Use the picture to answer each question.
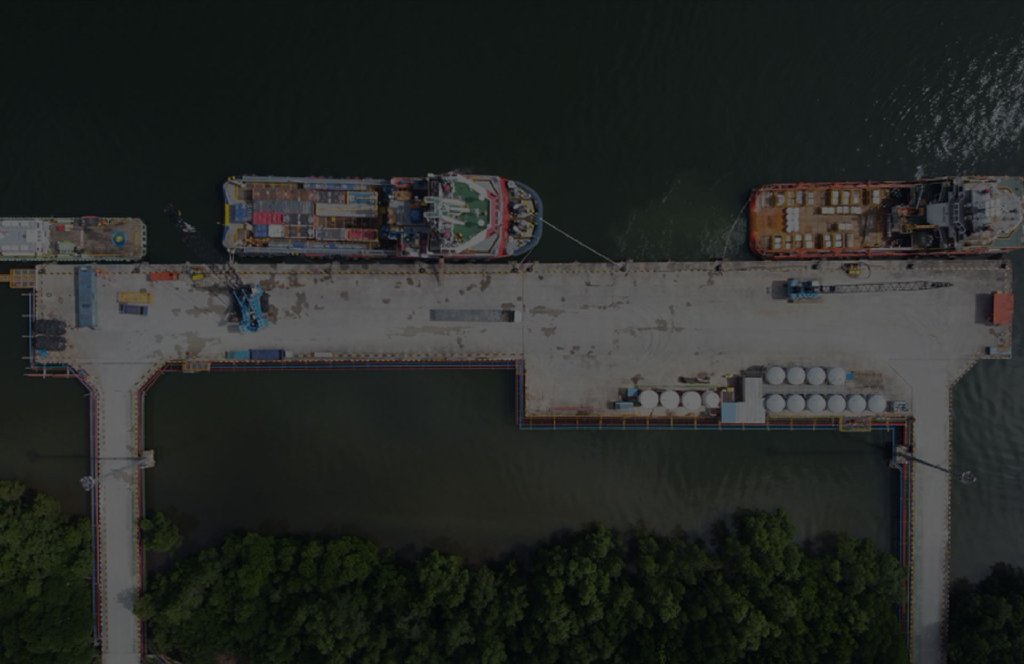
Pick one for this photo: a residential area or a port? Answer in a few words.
port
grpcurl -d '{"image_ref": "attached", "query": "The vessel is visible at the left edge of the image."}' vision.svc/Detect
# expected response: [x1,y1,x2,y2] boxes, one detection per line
[0,216,151,263]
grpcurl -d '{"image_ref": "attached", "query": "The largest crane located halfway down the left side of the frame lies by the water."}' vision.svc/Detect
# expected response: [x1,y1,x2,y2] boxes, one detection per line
[164,207,270,339]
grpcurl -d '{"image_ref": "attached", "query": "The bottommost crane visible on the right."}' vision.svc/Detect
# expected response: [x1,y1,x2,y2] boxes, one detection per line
[785,279,957,301]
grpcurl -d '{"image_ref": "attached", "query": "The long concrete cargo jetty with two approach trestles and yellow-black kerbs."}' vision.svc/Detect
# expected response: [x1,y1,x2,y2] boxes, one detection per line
[35,254,1011,664]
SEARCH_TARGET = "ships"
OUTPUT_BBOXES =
[0,216,151,263]
[222,171,544,258]
[745,175,1024,259]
